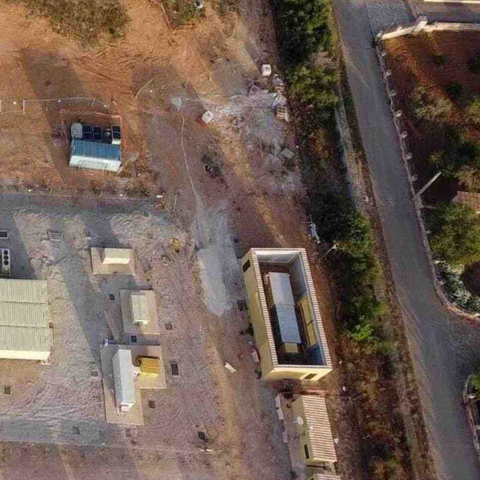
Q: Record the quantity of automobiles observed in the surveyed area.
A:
zero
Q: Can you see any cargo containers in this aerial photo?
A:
Yes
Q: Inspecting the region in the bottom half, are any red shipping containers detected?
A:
No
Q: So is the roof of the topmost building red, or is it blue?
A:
blue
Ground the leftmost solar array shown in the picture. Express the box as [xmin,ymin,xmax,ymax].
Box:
[84,126,101,141]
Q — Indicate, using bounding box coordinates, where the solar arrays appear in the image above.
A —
[112,126,121,143]
[84,126,101,141]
